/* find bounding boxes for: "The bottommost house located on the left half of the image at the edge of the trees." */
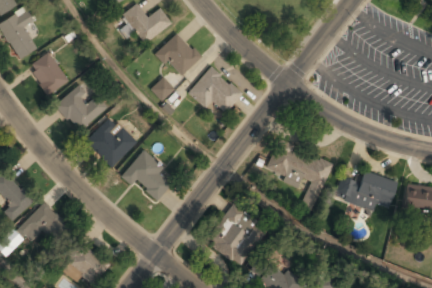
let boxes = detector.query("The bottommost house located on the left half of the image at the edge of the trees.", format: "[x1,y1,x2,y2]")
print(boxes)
[64,249,108,283]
